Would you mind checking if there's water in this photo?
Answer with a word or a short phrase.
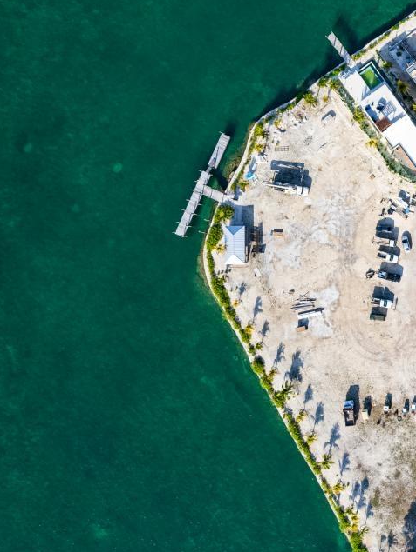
Yes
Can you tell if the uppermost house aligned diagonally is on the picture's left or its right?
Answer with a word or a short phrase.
right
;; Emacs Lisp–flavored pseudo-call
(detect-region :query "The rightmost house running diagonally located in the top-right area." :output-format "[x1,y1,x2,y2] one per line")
[339,60,416,172]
